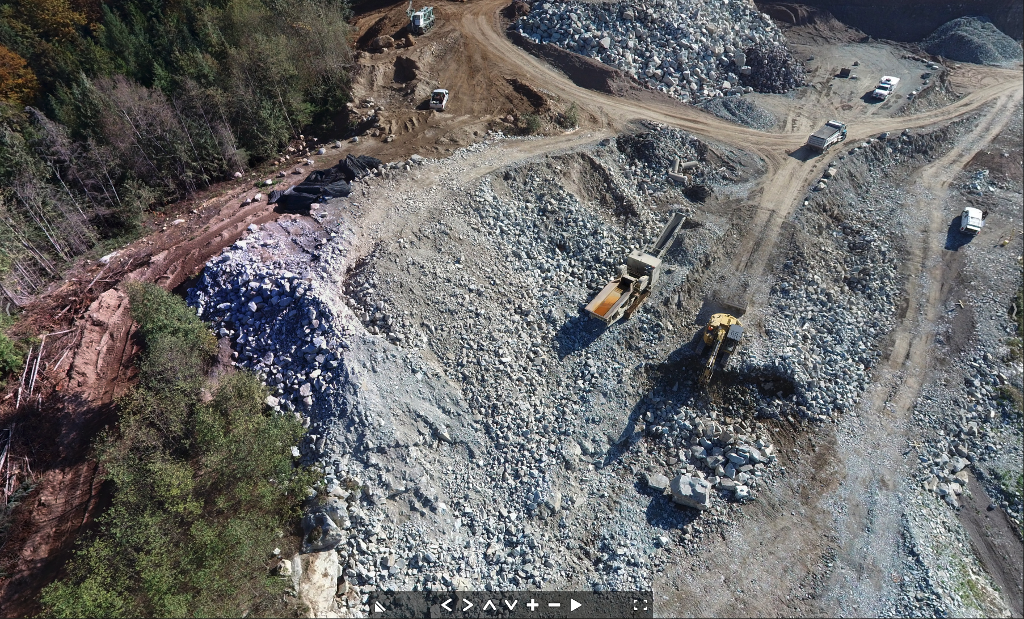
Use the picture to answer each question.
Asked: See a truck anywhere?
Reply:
Yes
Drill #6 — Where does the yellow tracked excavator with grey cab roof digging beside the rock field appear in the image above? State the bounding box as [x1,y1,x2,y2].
[695,309,745,382]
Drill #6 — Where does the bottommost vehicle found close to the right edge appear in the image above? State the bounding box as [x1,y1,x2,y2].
[957,202,992,233]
